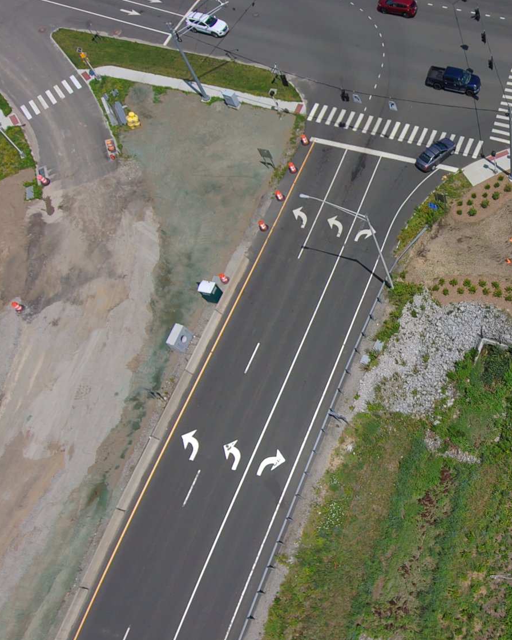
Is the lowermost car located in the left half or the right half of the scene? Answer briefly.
right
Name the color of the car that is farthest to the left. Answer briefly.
white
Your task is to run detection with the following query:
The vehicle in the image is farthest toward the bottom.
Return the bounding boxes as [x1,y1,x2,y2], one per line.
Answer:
[415,139,456,173]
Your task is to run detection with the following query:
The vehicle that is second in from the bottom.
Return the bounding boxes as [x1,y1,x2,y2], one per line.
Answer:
[425,66,480,96]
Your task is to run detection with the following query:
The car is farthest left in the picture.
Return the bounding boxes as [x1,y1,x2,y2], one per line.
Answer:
[185,12,228,39]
